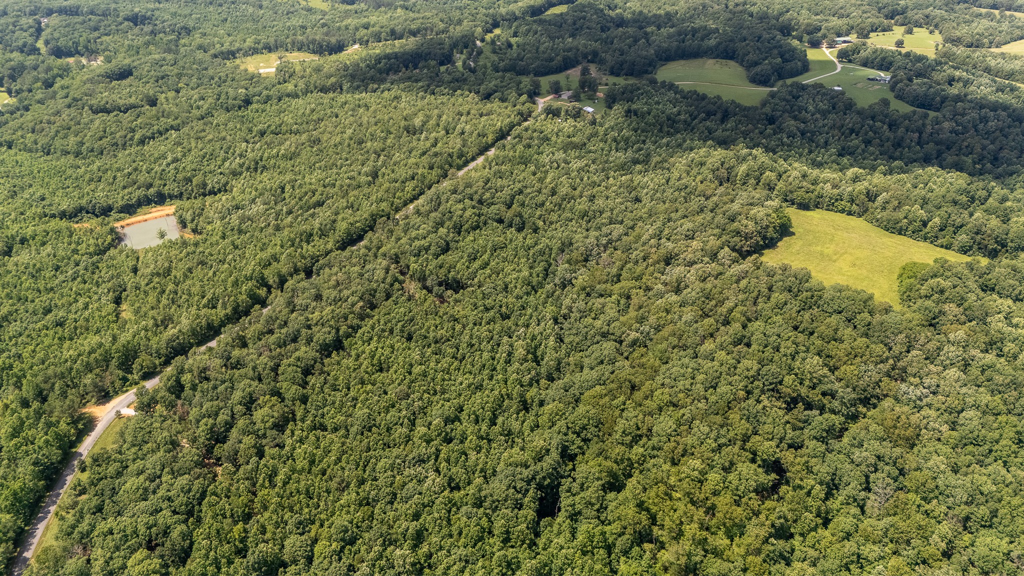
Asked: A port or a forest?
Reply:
forest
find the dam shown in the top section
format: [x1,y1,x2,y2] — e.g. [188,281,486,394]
[112,205,176,230]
